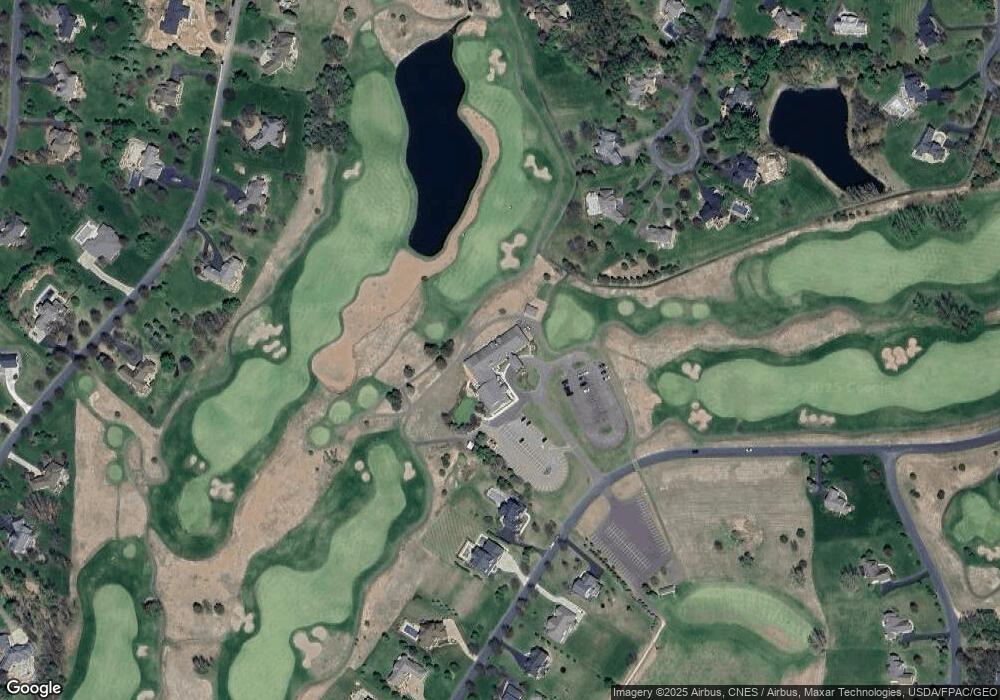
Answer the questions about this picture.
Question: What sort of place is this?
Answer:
golf course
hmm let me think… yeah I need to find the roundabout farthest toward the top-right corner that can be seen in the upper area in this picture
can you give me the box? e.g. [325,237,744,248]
[652,97,696,171]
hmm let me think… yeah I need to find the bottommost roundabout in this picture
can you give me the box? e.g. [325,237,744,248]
[510,360,542,393]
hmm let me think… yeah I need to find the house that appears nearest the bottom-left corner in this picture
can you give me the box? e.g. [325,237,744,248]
[0,632,33,689]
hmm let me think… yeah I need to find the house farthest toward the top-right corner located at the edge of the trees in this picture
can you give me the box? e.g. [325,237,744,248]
[915,16,942,55]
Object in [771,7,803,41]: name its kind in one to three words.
house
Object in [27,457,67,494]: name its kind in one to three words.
house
